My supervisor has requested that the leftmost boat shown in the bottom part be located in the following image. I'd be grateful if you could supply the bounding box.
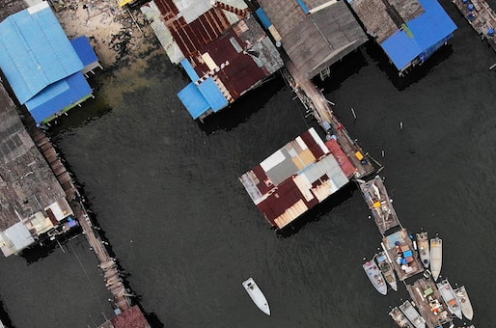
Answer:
[242,278,268,316]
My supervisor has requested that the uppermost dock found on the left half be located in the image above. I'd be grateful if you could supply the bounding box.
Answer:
[31,129,142,312]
